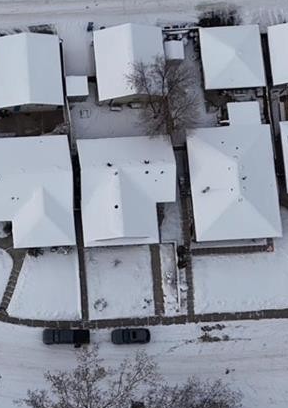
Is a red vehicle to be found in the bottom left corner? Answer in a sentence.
No, no red vehicle appears in the bottom left corner.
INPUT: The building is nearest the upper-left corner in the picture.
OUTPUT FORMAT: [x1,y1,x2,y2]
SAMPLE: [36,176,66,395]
[0,32,64,108]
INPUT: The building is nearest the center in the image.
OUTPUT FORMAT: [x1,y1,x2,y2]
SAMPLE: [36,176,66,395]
[76,135,177,247]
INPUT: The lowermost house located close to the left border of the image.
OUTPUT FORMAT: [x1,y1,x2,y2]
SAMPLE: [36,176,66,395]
[0,135,76,248]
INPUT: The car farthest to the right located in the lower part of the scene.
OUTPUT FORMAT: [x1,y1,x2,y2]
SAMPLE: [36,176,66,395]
[112,327,152,345]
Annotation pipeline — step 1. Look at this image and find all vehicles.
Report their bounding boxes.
[43,327,92,346]
[112,327,152,345]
